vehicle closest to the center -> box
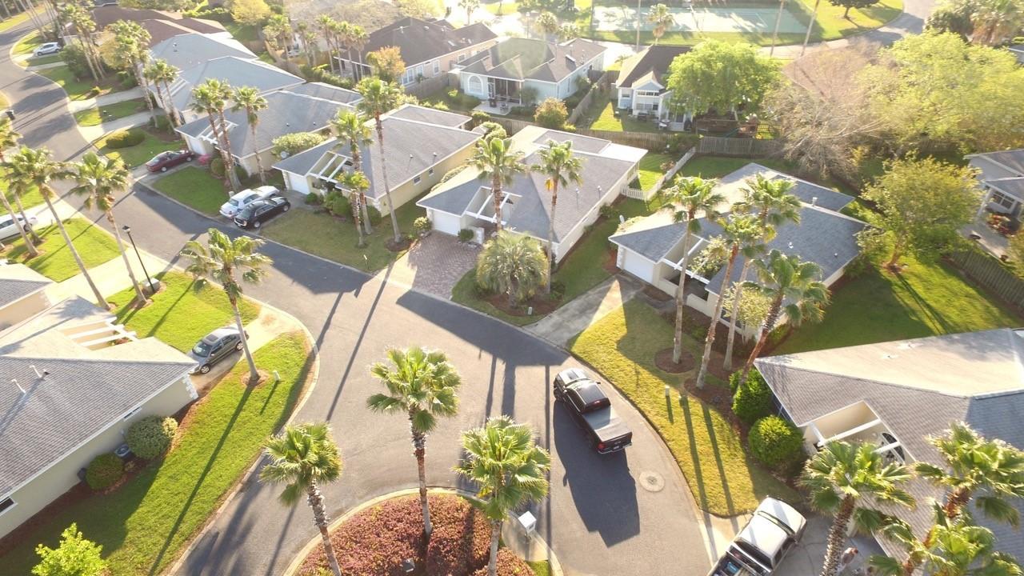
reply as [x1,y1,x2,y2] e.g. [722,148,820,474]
[553,372,634,460]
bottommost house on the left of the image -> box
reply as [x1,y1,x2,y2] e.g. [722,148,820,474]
[0,294,200,538]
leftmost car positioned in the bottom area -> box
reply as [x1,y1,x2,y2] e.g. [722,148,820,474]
[189,327,257,379]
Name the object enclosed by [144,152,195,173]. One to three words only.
car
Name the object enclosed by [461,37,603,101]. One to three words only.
house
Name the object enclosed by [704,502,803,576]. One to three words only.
truck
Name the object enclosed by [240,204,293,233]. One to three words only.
car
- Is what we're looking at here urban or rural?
urban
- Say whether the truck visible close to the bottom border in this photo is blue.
No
